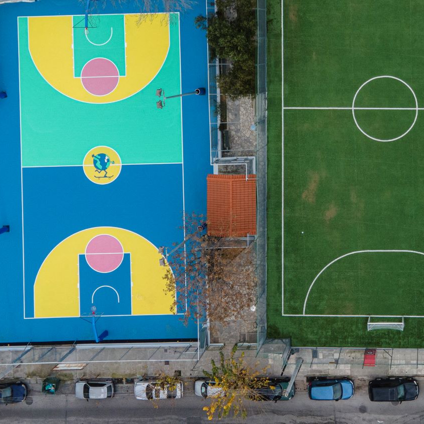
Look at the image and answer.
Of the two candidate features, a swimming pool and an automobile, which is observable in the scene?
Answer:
automobile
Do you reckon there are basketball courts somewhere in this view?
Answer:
Yes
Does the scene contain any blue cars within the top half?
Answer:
No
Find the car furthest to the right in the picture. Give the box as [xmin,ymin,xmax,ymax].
[367,379,418,406]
